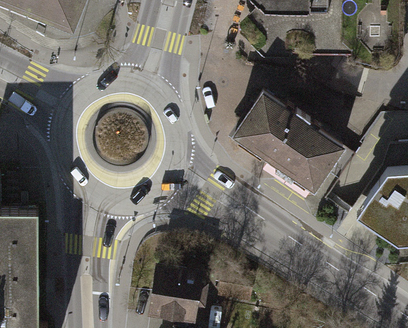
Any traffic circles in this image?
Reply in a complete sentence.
Yes, the photo shows a traffic circle.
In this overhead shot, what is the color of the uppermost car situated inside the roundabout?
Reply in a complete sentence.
The color of the uppermost car situated inside the roundabout is black.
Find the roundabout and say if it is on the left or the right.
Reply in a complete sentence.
The roundabout is on the left side of the image.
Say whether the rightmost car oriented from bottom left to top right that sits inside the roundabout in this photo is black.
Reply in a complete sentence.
Yes, the rightmost car oriented from bottom left to top right that sits inside the roundabout appears black.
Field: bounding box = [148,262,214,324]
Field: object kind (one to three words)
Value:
house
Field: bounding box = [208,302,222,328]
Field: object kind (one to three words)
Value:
vehicle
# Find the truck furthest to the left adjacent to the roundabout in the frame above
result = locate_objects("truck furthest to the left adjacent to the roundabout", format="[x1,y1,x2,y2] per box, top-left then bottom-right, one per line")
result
[8,92,36,115]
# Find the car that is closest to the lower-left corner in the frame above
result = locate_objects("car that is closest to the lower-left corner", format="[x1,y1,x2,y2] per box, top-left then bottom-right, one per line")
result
[97,294,110,321]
